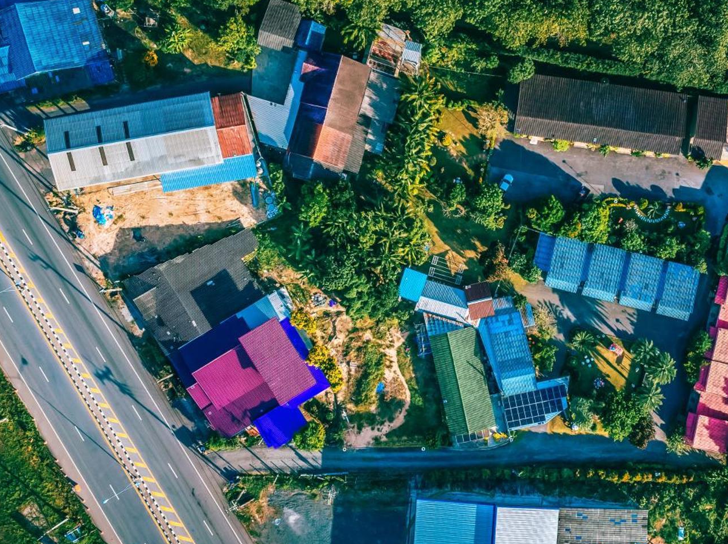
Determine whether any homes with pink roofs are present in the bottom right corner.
Yes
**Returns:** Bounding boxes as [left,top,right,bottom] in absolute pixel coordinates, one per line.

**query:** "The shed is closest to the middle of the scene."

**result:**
[399,268,428,303]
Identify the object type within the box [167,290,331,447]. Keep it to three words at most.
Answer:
house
